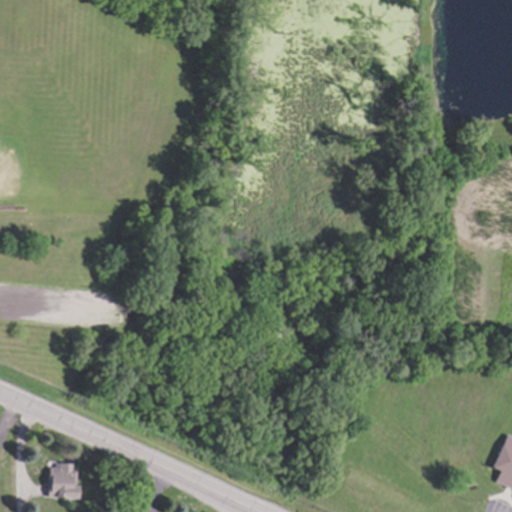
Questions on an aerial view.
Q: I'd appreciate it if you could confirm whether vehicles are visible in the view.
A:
No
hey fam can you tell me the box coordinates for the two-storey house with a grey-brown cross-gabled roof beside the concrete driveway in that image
[47,462,82,501]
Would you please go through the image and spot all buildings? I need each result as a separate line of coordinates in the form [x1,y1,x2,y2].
[47,462,82,501]
[494,435,512,492]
